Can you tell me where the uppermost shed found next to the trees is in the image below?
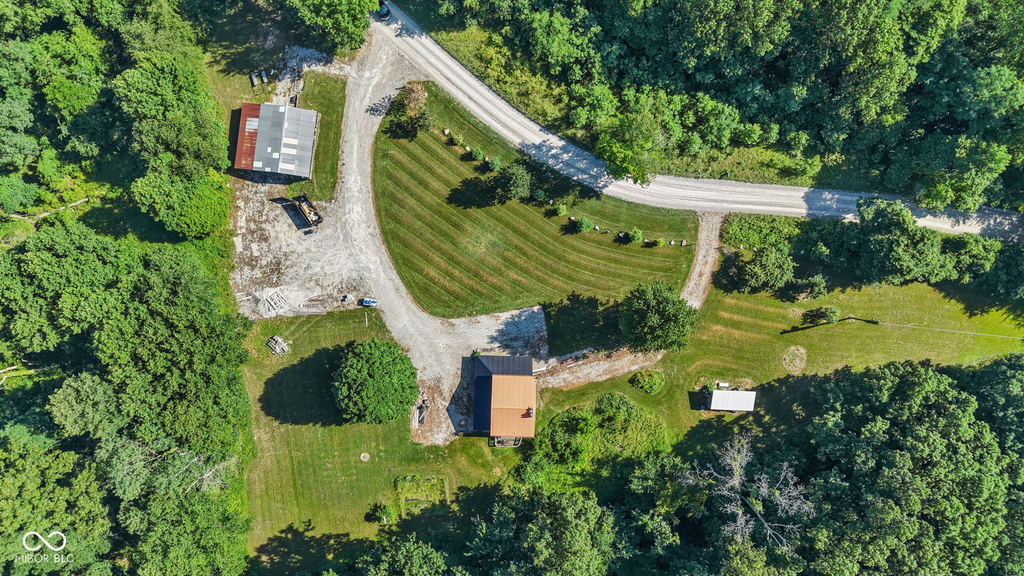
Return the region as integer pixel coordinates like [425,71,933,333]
[235,103,320,179]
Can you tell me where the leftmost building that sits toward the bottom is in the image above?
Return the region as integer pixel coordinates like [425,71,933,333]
[473,355,536,438]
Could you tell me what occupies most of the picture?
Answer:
trees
